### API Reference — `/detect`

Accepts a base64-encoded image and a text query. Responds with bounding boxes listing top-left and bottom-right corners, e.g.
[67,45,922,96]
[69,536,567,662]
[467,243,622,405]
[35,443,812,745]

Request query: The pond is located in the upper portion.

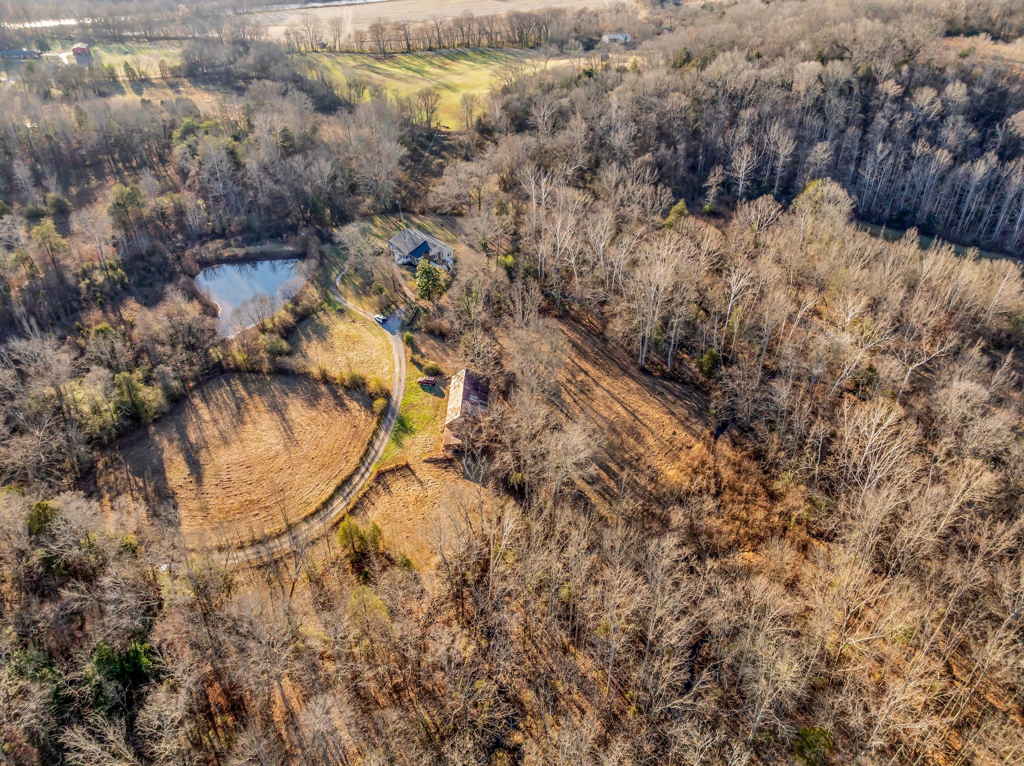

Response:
[188,256,312,343]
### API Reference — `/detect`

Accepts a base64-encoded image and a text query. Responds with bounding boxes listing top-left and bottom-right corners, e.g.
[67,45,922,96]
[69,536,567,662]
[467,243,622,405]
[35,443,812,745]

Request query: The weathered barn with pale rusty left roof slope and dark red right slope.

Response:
[440,365,493,457]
